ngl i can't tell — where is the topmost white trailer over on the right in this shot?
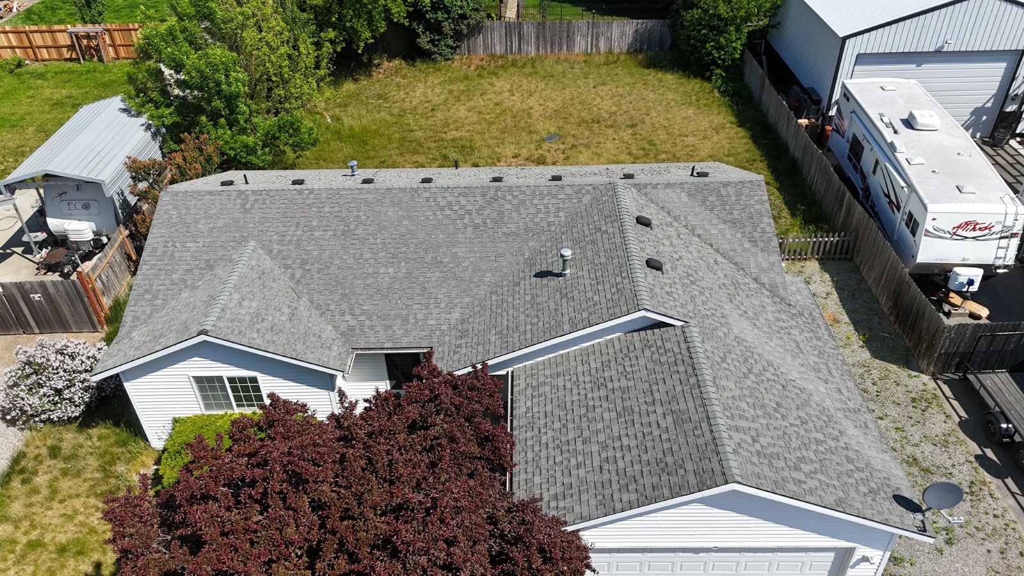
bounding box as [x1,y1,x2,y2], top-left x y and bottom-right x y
[833,84,1021,302]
